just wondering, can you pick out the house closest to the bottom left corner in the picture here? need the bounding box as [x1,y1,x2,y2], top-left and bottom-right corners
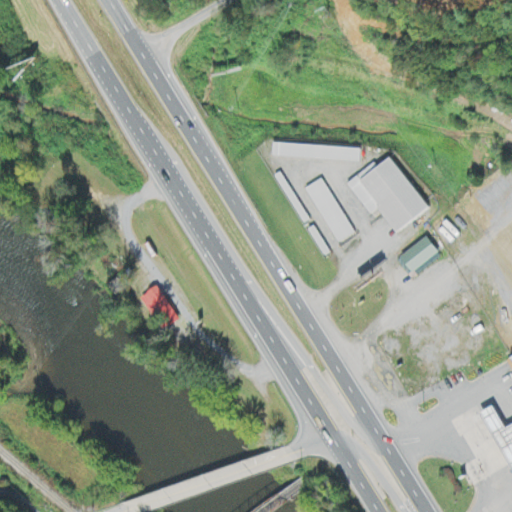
[141,286,180,328]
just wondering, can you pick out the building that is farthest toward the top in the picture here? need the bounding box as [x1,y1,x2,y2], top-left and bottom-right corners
[272,142,362,161]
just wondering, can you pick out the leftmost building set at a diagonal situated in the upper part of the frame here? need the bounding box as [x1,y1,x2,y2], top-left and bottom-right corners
[276,171,310,221]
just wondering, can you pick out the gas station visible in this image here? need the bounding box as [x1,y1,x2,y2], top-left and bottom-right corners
[481,406,512,461]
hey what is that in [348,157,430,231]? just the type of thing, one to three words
building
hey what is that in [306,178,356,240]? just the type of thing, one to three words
building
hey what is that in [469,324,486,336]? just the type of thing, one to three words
vehicle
